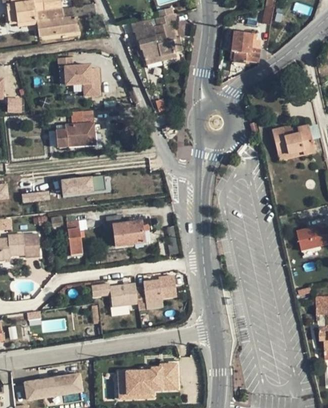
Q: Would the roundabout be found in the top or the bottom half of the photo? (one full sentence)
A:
Seen from above, the roundabout lies in the top half of the view.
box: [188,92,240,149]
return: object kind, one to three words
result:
roundabout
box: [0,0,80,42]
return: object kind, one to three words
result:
house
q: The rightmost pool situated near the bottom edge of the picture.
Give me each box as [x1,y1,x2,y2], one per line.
[104,372,118,402]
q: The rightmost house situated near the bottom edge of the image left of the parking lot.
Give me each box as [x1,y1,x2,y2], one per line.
[118,361,180,400]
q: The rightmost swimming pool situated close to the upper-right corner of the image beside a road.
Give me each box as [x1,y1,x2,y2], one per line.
[291,1,313,17]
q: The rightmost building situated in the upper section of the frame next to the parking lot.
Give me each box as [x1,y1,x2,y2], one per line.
[270,124,320,162]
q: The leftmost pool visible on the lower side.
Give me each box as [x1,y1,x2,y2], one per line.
[14,278,36,295]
